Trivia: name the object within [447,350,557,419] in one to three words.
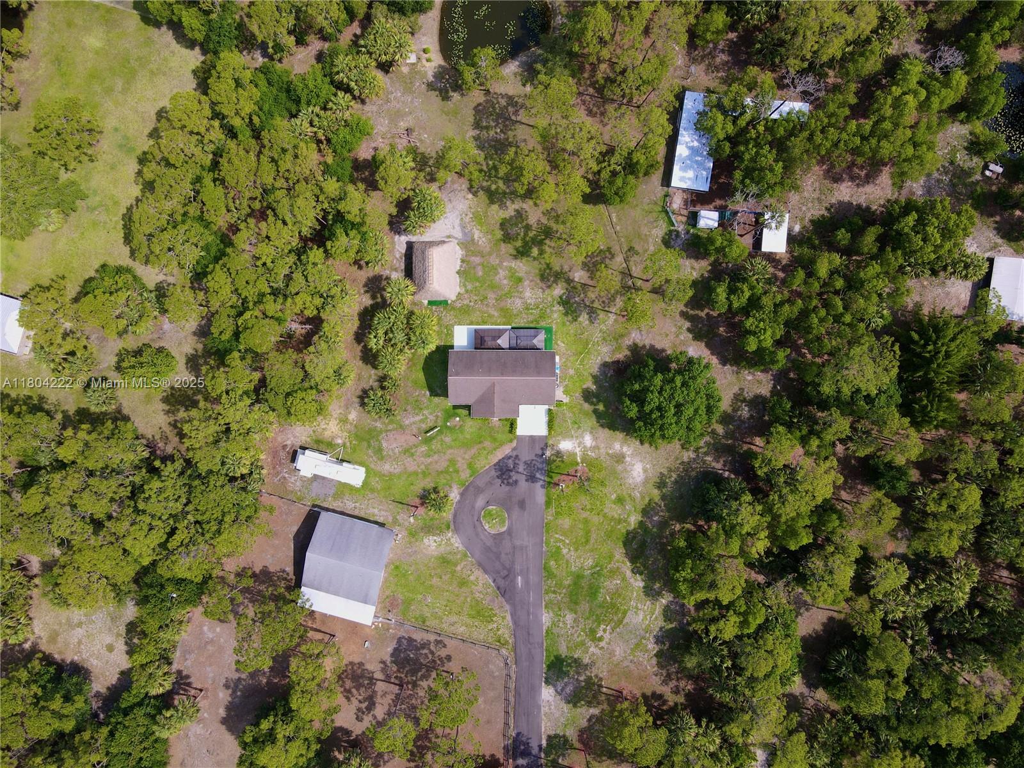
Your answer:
house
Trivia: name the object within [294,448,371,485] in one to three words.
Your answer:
trailer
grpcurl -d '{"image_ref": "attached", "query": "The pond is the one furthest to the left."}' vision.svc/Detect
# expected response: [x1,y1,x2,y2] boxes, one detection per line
[439,0,552,72]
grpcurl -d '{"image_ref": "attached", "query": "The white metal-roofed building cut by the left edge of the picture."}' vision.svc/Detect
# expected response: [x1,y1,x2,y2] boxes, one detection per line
[0,295,34,354]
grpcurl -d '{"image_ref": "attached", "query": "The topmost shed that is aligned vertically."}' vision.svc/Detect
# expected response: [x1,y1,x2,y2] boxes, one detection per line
[667,91,721,195]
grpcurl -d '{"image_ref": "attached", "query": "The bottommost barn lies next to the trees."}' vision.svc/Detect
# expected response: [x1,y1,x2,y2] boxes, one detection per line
[299,508,396,625]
